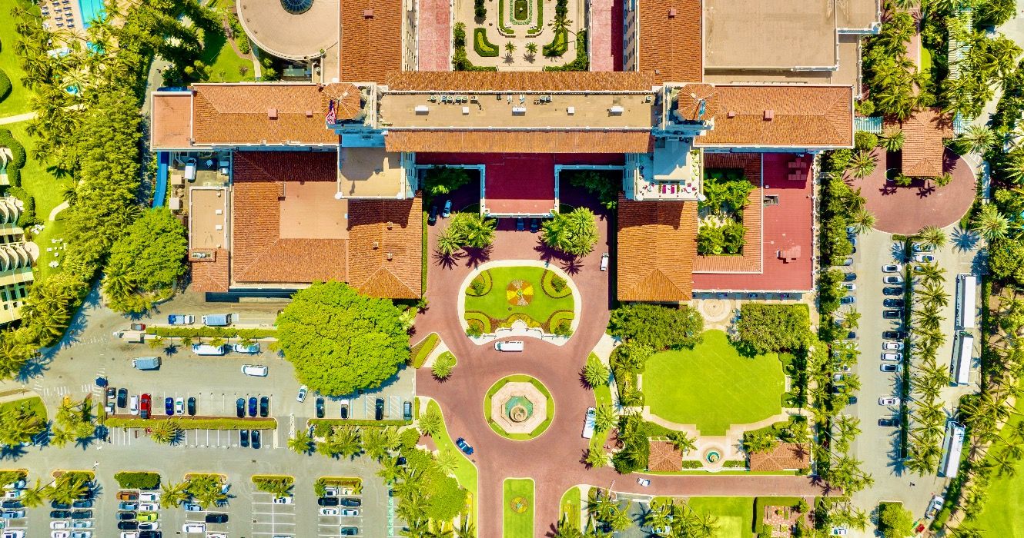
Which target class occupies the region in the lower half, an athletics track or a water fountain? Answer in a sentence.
The one visible in the lower half is a water fountain.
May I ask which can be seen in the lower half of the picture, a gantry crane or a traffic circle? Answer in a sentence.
The feature located in the lower half of the picture is a traffic circle.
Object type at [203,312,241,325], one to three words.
vehicle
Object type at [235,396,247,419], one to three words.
vehicle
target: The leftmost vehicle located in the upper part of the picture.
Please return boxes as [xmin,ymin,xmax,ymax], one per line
[185,156,201,184]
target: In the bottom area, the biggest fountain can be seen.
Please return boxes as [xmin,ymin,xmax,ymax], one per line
[491,380,547,436]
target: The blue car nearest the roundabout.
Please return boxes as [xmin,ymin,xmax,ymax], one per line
[455,436,475,454]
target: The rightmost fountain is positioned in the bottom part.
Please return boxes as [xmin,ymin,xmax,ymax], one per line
[701,443,725,467]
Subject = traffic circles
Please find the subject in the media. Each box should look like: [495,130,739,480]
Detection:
[484,373,555,442]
